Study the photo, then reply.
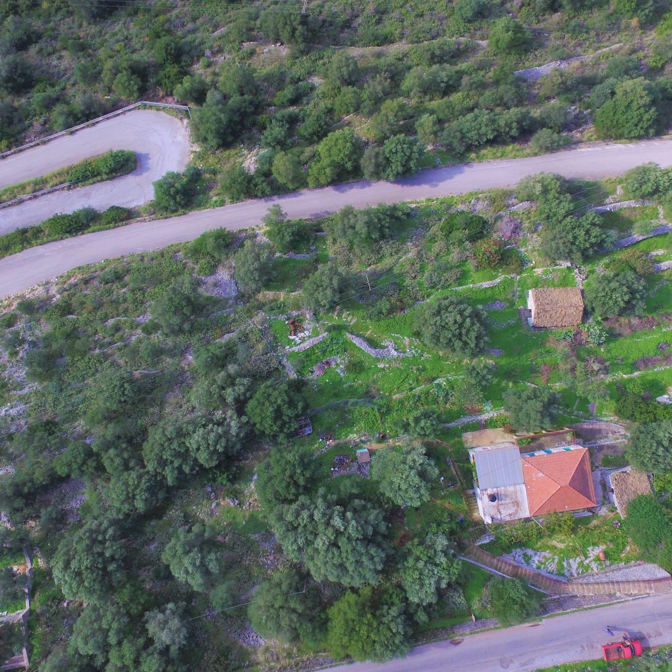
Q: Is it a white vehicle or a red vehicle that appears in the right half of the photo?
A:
red vehicle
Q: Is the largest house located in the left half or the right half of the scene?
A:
right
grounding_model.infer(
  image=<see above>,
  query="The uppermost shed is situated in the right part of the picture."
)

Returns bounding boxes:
[527,287,585,326]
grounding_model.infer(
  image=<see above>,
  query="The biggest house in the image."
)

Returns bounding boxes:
[465,440,598,525]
